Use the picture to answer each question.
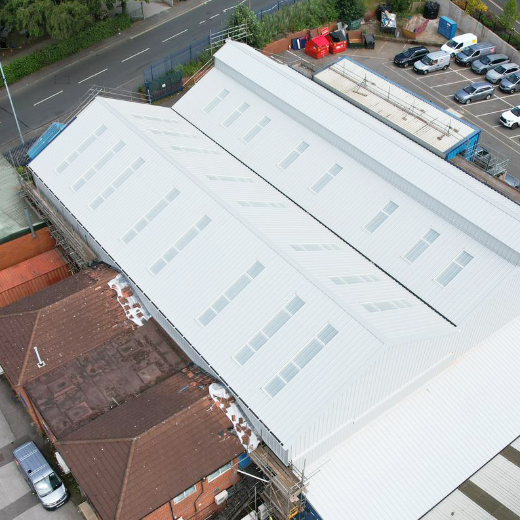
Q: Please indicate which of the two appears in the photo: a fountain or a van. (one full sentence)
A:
There is a van in the scene.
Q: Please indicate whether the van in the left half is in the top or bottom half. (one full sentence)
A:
You can find the van in the left half in the bottom half.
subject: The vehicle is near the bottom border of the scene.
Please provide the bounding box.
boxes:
[8,431,72,519]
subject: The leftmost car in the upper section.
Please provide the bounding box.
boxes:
[391,38,433,67]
